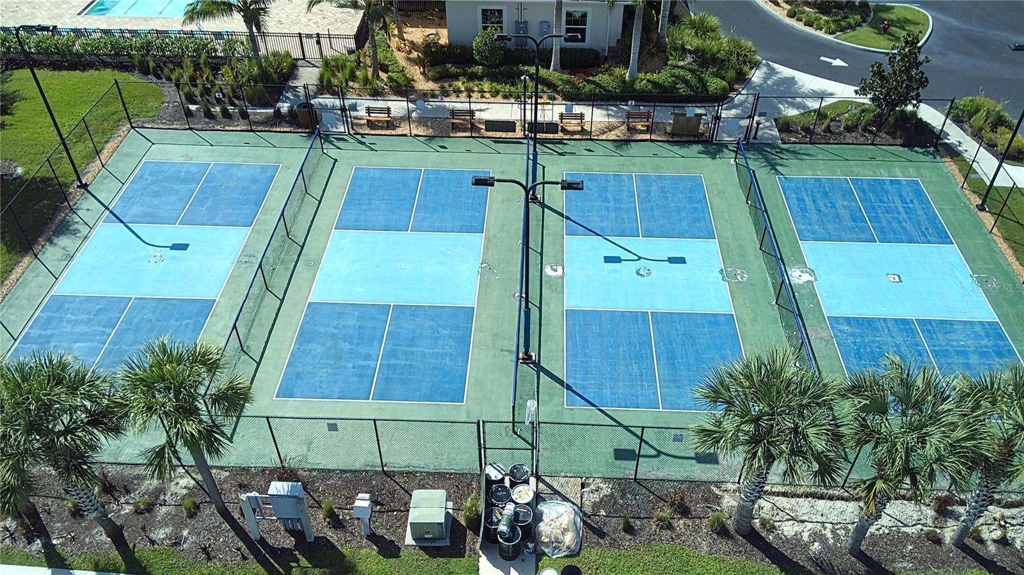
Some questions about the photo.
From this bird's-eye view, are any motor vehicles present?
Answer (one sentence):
No, there appears to be no motor vehicle in this shot.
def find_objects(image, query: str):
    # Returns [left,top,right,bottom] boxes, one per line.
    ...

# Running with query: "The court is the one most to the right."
[776,175,1024,423]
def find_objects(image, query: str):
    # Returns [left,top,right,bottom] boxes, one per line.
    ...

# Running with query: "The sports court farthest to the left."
[0,155,280,393]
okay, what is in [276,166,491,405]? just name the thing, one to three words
sports court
